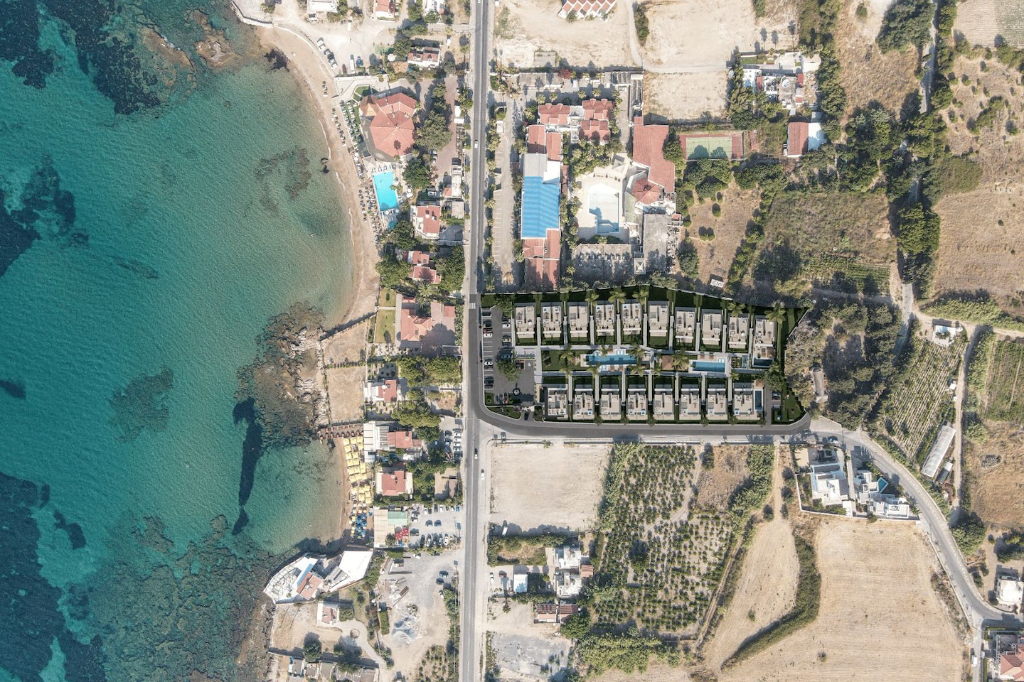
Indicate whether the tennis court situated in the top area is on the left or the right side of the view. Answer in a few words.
right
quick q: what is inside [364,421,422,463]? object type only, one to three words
building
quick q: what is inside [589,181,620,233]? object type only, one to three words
swimming pool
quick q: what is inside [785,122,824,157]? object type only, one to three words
barn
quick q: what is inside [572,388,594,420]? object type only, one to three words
house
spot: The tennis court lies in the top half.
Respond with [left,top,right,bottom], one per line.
[686,136,732,159]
